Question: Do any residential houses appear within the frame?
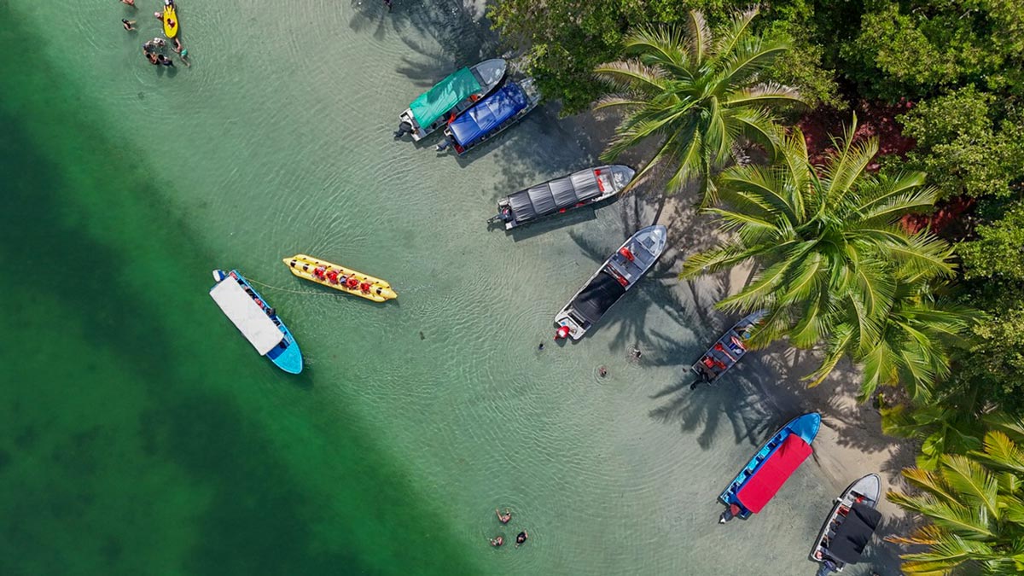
No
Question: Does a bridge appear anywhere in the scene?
No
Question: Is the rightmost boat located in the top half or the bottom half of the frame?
bottom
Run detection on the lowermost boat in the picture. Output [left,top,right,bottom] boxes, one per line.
[810,471,882,576]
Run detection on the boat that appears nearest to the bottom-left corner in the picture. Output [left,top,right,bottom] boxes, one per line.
[205,270,306,374]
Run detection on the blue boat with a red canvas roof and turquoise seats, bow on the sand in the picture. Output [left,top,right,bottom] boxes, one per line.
[715,413,824,520]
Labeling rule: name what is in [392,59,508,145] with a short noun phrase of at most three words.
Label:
boat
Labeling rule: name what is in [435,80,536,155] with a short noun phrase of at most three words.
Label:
boat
